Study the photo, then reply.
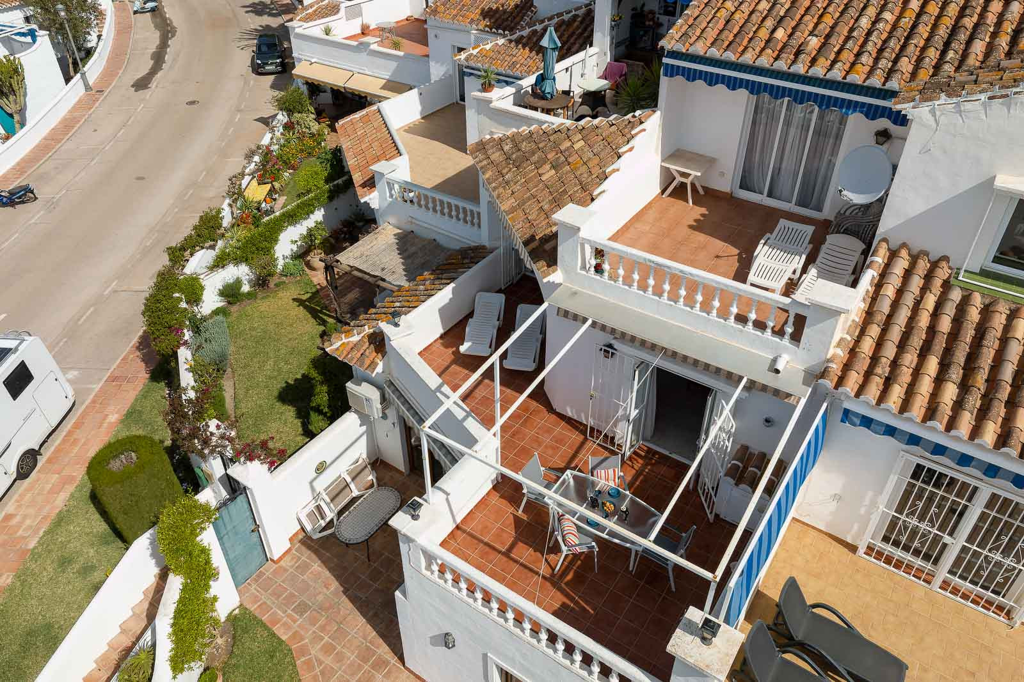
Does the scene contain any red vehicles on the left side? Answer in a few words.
No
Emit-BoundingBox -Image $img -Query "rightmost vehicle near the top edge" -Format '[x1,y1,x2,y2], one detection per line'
[246,22,284,69]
